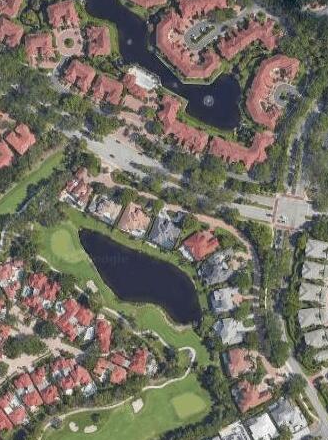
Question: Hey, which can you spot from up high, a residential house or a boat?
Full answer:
The one in the frame is a residential house.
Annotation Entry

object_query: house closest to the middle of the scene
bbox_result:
[148,209,184,248]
